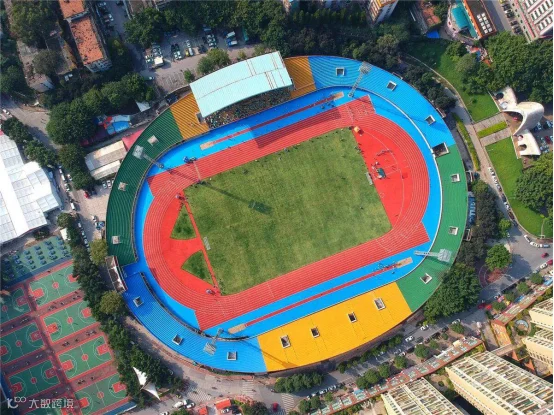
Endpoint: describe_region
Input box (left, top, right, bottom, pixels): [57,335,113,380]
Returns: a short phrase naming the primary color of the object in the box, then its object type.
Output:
green basketball court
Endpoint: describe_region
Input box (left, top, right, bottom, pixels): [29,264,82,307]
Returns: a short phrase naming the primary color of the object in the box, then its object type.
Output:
green basketball court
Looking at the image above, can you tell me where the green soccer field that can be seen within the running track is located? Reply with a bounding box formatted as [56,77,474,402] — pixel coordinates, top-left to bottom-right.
[170,127,391,295]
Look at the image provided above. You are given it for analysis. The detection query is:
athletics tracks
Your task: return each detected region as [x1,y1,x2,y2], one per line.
[143,94,431,330]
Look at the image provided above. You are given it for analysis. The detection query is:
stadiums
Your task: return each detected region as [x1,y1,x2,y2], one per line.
[105,51,470,374]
